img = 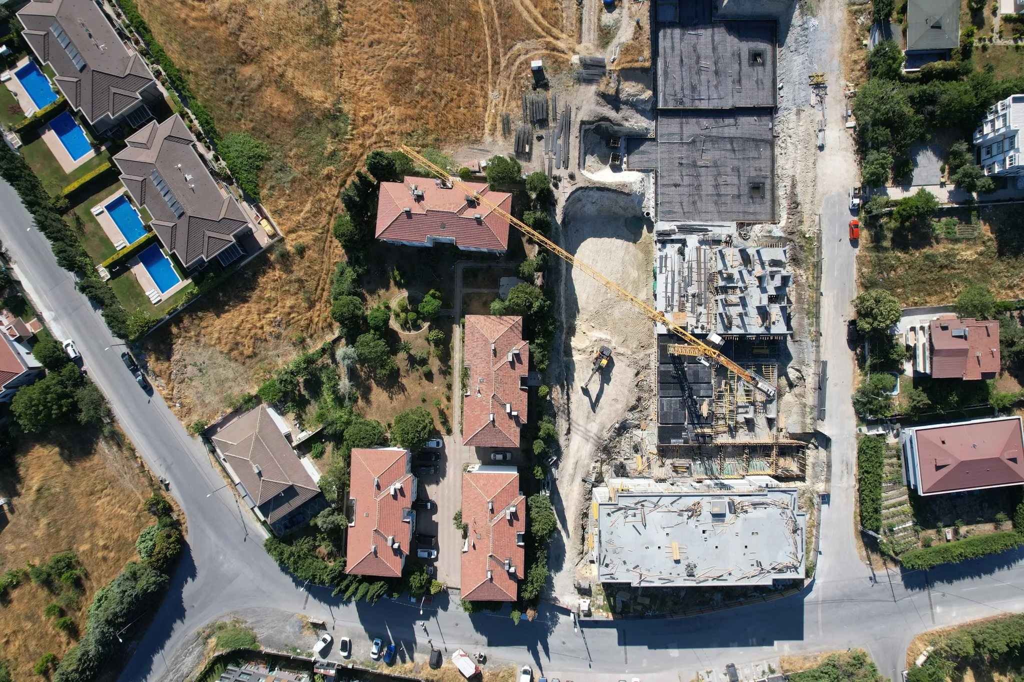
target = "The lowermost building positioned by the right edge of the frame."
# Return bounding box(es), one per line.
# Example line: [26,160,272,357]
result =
[891,413,1024,495]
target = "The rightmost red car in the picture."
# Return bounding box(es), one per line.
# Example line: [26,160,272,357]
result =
[850,219,862,240]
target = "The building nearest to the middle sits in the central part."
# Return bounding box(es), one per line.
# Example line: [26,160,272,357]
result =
[462,314,530,448]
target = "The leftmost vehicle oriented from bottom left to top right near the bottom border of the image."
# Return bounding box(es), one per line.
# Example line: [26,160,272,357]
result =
[313,634,331,655]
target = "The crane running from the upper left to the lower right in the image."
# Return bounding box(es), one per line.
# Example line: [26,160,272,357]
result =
[398,142,779,400]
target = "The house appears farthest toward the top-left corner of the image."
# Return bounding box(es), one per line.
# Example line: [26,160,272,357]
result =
[16,0,169,131]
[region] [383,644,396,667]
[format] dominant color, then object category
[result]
blue vehicle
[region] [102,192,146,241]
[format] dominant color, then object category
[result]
blue swimming pool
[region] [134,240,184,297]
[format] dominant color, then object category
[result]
blue swimming pool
